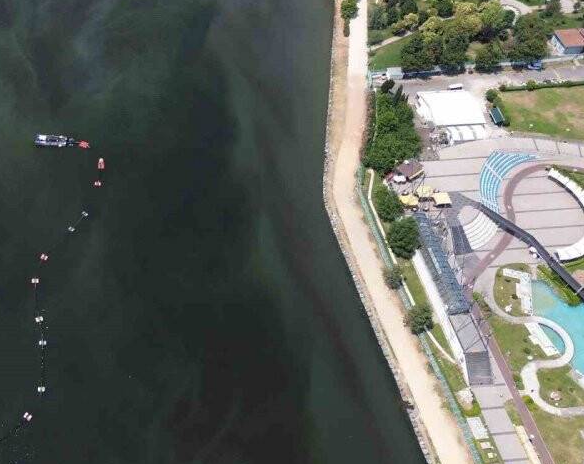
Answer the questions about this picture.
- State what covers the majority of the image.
water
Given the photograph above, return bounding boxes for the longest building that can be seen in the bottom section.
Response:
[408,211,492,387]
